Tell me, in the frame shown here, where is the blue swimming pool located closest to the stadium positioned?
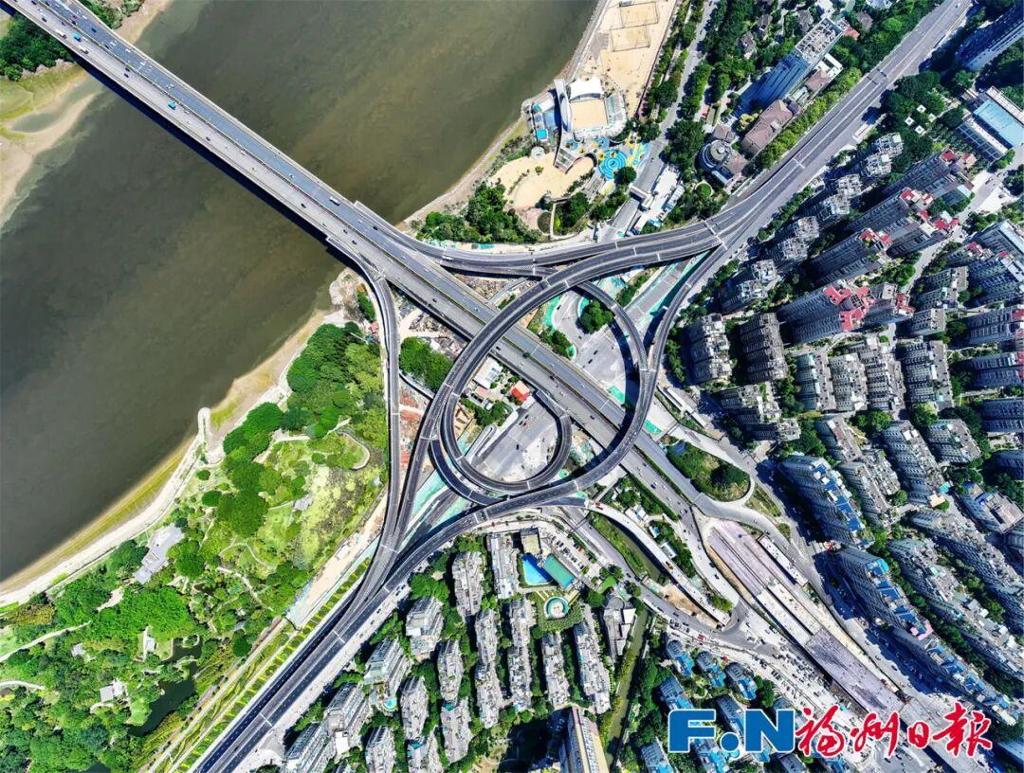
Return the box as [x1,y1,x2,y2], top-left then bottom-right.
[545,108,558,128]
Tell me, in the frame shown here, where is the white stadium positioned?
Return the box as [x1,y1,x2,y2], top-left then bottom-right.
[553,74,625,176]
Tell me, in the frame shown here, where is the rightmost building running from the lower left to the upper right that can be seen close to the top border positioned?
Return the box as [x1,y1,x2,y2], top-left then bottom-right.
[962,3,1024,77]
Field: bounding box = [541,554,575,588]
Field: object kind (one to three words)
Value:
swimming pool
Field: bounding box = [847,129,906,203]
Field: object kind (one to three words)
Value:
building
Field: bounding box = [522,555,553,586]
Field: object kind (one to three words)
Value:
swimming pool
